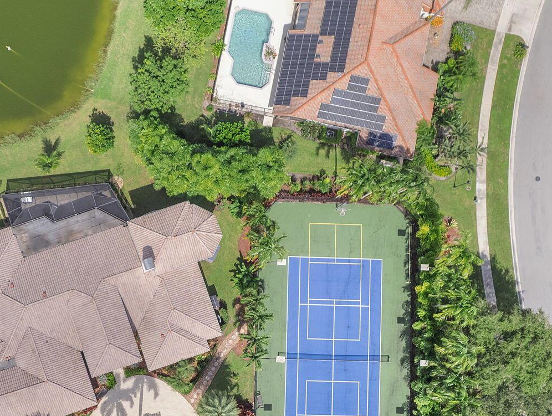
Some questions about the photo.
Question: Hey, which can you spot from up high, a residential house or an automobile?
residential house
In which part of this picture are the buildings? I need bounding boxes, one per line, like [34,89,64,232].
[273,0,444,160]
[0,200,223,416]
